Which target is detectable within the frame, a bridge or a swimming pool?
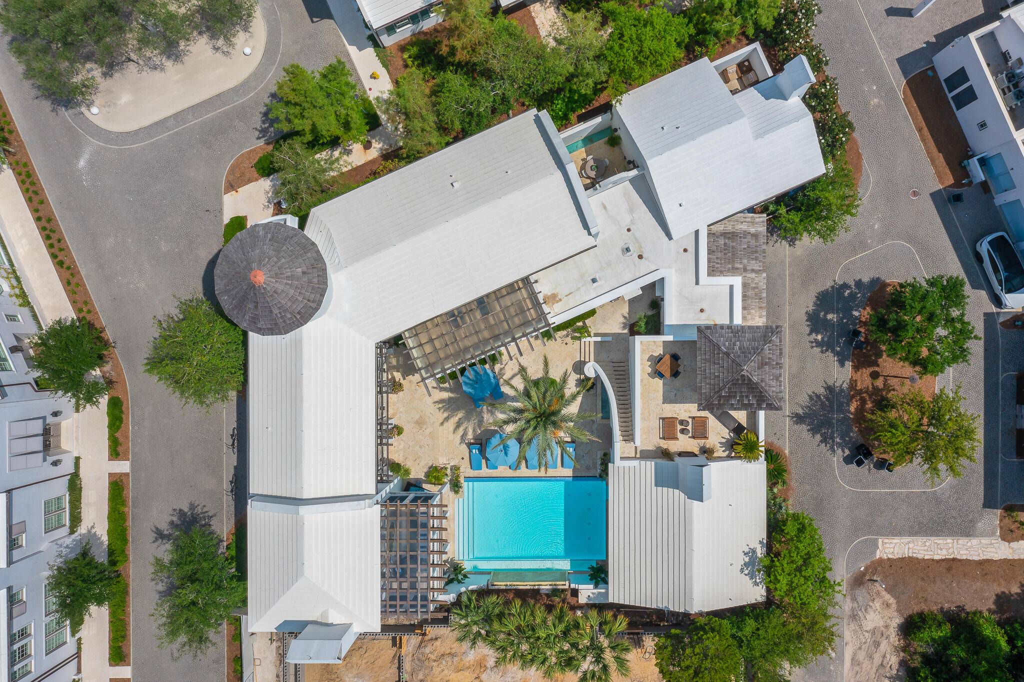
swimming pool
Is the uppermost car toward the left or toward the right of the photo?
right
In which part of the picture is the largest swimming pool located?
bottom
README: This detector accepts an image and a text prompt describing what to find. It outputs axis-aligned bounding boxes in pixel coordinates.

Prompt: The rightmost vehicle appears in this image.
[979,231,1024,314]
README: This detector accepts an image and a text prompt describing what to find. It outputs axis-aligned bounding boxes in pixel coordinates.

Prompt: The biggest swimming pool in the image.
[452,478,606,565]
